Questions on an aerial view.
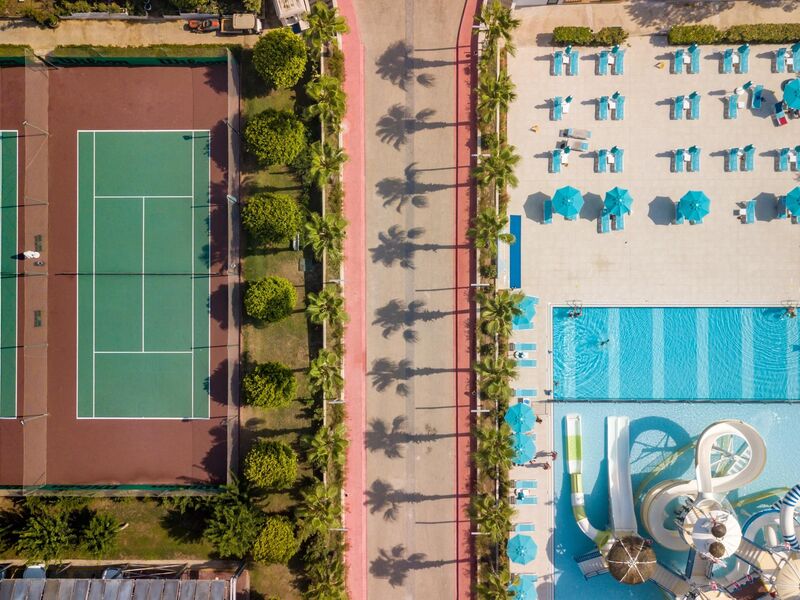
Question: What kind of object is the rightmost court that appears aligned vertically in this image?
tennis court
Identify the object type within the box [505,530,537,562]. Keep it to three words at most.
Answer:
umbrella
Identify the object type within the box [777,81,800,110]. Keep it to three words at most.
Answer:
umbrella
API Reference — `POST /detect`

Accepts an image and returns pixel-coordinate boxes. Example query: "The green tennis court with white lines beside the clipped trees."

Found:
[48,68,238,485]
